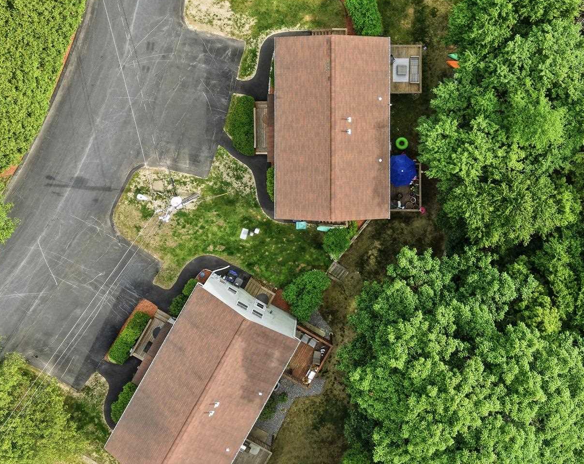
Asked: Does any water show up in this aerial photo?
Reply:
No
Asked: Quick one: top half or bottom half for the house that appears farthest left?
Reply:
bottom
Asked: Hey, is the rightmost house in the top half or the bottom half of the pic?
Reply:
top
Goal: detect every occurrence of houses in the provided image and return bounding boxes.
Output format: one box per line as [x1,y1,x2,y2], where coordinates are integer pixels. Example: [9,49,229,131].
[104,269,333,464]
[254,31,421,226]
